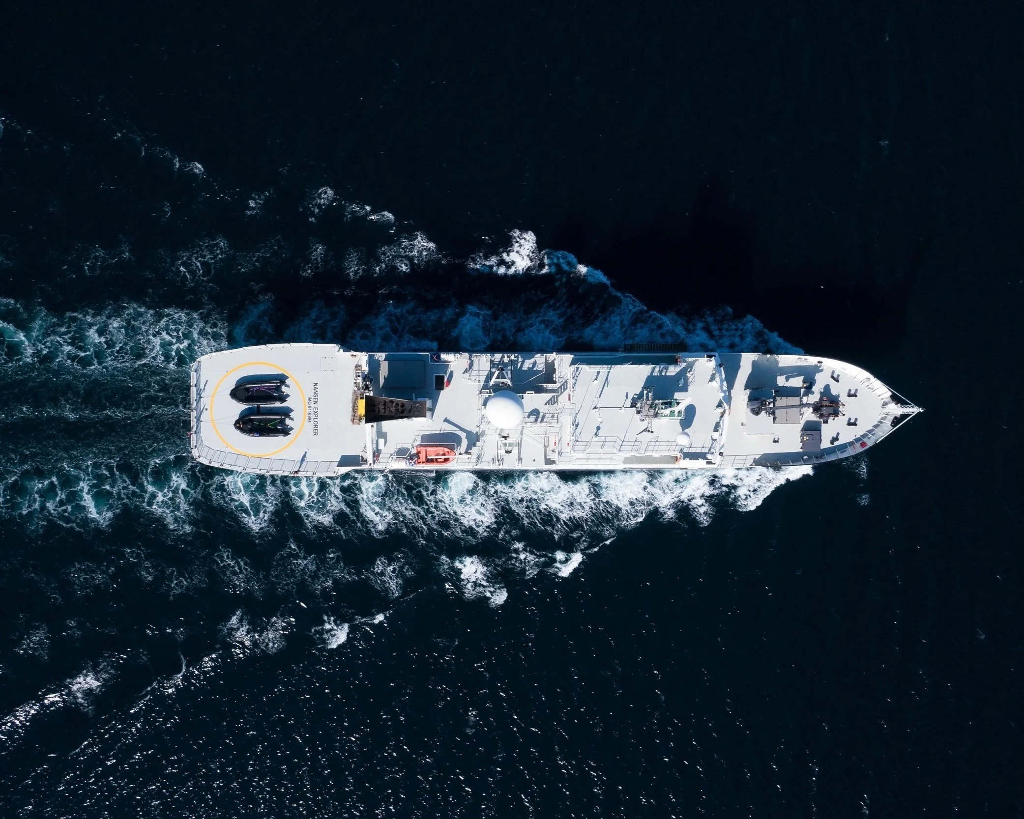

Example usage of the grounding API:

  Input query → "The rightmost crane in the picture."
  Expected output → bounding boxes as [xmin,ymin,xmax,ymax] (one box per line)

[740,401,818,418]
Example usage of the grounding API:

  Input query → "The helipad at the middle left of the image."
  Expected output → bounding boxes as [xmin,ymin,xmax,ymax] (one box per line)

[186,343,366,476]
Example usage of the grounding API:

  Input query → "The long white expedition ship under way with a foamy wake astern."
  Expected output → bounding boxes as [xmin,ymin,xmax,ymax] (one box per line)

[337,343,925,475]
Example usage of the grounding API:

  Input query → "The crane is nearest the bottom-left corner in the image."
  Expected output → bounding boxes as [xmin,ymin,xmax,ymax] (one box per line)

[366,423,379,472]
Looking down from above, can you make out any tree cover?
No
